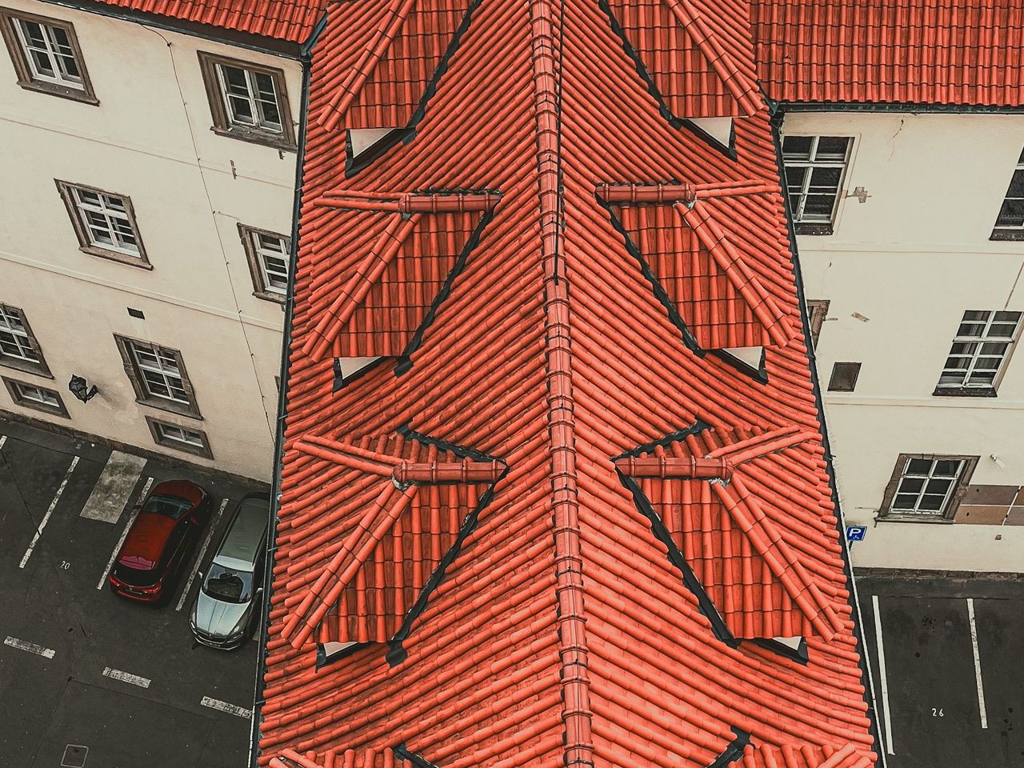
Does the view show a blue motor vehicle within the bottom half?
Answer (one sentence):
No, I see no blue motor vehicle within the bottom half.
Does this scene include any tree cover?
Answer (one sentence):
No, tree cover can't be seen anywhere here.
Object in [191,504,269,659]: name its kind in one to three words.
car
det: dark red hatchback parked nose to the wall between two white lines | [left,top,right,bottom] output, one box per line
[113,476,218,610]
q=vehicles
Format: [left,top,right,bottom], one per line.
[191,504,269,659]
[113,476,218,610]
